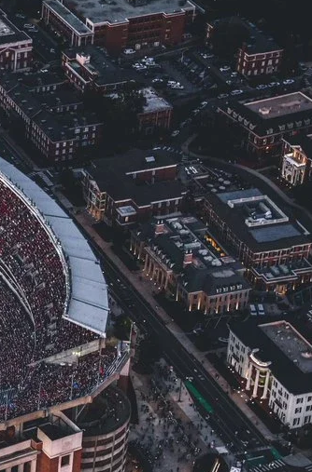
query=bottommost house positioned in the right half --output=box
[224,316,312,428]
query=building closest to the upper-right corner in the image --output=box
[205,16,284,74]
